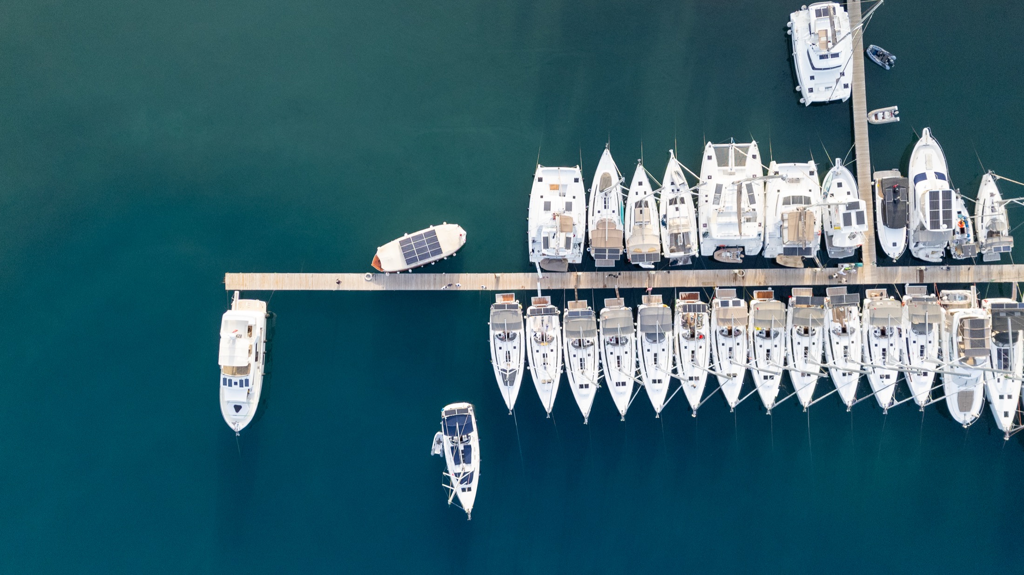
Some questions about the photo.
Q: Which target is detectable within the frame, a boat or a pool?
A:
boat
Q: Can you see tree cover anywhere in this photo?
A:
No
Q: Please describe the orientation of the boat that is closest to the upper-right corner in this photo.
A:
at an angle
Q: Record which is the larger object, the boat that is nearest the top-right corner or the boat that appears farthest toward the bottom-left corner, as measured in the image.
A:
the boat that appears farthest toward the bottom-left corner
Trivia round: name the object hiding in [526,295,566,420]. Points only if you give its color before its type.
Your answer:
white boat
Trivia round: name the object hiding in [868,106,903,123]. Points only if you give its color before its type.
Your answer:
white boat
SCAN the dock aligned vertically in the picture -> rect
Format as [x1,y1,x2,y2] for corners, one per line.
[846,0,876,267]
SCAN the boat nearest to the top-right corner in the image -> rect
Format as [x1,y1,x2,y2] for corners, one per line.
[868,44,898,69]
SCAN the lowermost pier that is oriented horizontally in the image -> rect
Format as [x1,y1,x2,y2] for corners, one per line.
[226,264,1024,291]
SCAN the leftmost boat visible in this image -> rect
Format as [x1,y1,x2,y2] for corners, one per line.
[218,300,267,437]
